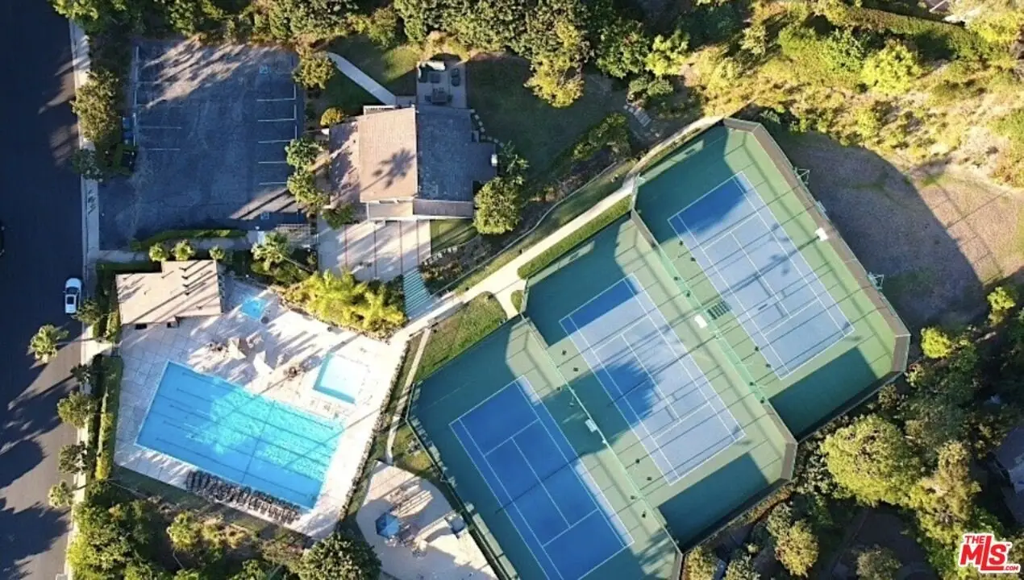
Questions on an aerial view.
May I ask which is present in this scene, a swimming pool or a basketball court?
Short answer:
swimming pool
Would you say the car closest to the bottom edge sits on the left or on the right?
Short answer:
left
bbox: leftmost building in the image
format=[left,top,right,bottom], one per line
[116,259,224,330]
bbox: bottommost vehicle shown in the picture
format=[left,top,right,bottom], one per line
[63,279,85,314]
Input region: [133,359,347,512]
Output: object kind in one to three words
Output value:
swimming pool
